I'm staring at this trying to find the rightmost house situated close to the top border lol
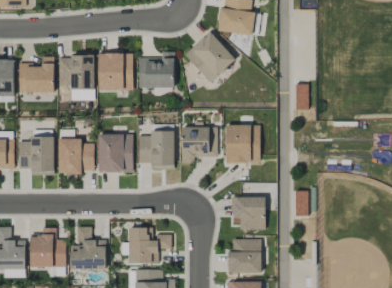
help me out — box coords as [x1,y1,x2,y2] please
[220,0,268,36]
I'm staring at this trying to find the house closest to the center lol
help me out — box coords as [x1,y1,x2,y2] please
[182,120,220,164]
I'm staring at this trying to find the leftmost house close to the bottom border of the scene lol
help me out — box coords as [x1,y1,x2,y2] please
[0,228,26,278]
